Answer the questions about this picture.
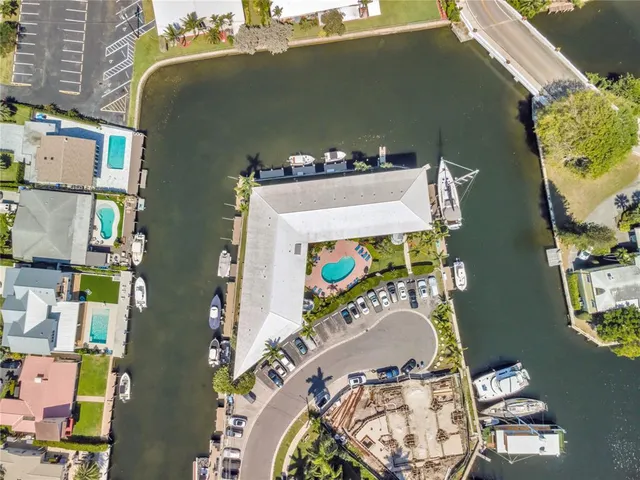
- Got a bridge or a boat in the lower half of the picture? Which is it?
boat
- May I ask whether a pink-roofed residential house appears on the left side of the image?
Yes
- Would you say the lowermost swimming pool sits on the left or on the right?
left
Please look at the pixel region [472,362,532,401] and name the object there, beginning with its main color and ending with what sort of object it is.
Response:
white boat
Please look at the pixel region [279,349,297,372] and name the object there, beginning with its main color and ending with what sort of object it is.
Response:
white vehicle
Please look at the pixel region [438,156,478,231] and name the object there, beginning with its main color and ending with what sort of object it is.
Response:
white boat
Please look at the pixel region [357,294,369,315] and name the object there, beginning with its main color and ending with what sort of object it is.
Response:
white vehicle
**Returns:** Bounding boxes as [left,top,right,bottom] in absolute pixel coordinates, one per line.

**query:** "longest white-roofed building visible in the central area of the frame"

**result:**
[234,162,432,379]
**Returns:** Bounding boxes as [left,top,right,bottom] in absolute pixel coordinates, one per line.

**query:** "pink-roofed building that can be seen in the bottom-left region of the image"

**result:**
[0,355,80,433]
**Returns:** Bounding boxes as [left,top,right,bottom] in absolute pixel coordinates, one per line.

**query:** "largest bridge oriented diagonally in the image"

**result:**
[471,19,592,99]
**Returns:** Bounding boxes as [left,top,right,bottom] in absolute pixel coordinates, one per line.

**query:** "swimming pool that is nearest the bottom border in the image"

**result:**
[88,308,111,345]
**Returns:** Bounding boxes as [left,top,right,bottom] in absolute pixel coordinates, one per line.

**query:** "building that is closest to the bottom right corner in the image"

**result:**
[576,256,640,312]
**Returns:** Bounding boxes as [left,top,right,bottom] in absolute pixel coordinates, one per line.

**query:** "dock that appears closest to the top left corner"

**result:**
[128,132,148,194]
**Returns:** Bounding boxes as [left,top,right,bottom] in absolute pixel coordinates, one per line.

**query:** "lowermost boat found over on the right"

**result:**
[482,423,566,461]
